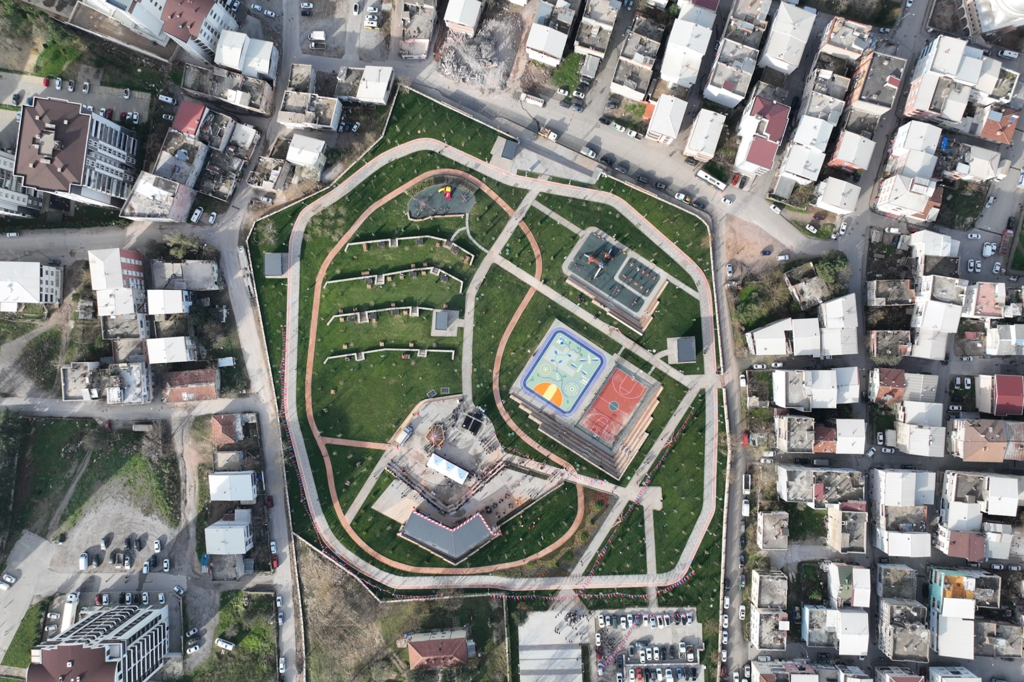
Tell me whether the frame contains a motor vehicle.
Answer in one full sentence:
Yes, a motor vehicle is visible in the scene.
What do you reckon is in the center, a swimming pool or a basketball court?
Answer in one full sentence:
Visible in the center is a basketball court.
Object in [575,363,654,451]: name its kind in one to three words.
basketball court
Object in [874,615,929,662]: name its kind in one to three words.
house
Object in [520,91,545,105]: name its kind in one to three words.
vehicle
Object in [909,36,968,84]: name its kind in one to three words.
building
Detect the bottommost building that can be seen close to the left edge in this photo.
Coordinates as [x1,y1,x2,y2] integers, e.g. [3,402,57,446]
[25,607,170,682]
